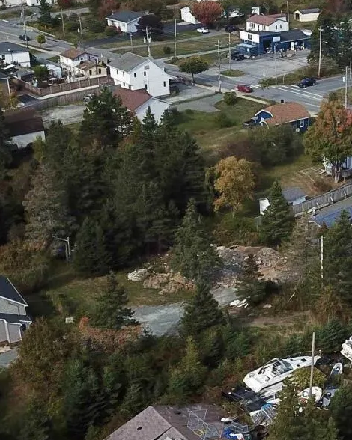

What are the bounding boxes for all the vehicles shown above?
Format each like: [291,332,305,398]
[228,50,247,59]
[298,78,316,88]
[19,35,30,41]
[235,84,251,92]
[196,26,210,32]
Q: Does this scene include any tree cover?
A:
Yes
